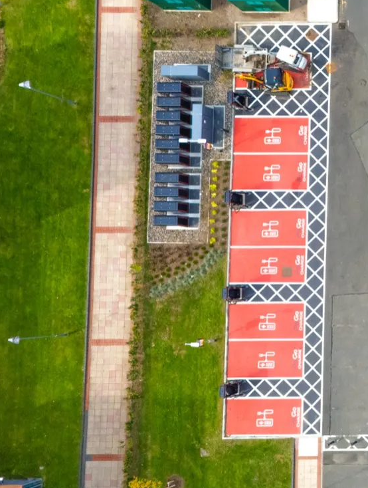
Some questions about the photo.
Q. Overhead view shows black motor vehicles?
No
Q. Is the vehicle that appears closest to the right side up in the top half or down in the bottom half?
top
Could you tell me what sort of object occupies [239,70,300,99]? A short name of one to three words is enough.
work vehicle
